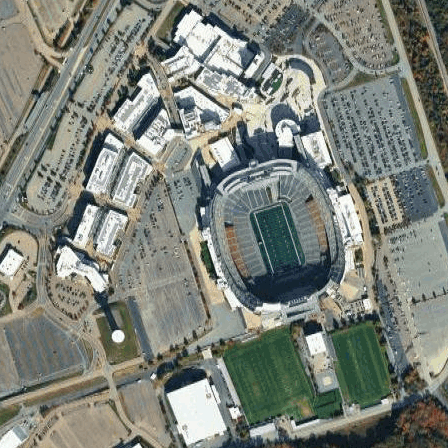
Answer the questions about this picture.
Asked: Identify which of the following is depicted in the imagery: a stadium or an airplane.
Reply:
stadium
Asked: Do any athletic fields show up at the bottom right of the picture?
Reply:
Yes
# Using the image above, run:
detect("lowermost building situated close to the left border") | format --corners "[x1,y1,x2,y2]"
[0,425,29,448]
